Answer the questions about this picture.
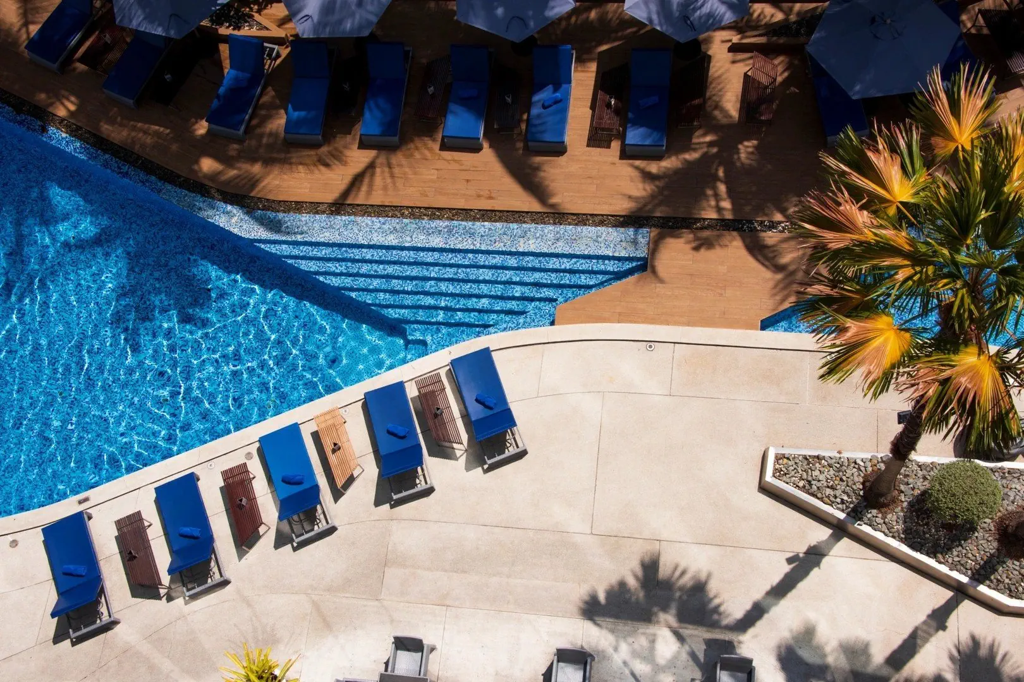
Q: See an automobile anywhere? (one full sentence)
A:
No, I can't see a single automobile in this photo.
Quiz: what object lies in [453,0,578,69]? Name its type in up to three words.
umbrella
